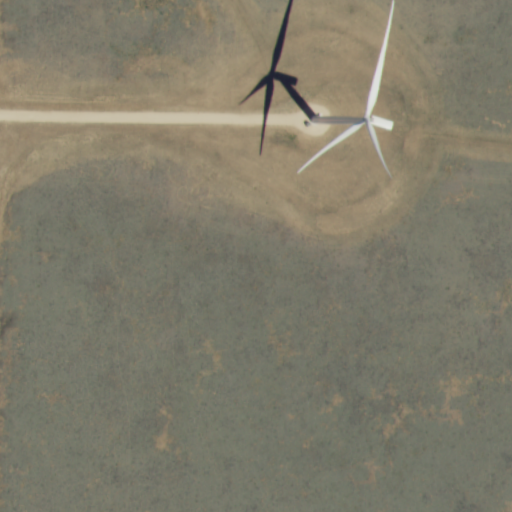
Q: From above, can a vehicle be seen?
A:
No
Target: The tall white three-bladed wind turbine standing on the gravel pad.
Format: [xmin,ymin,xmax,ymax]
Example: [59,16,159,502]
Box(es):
[298,0,394,177]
